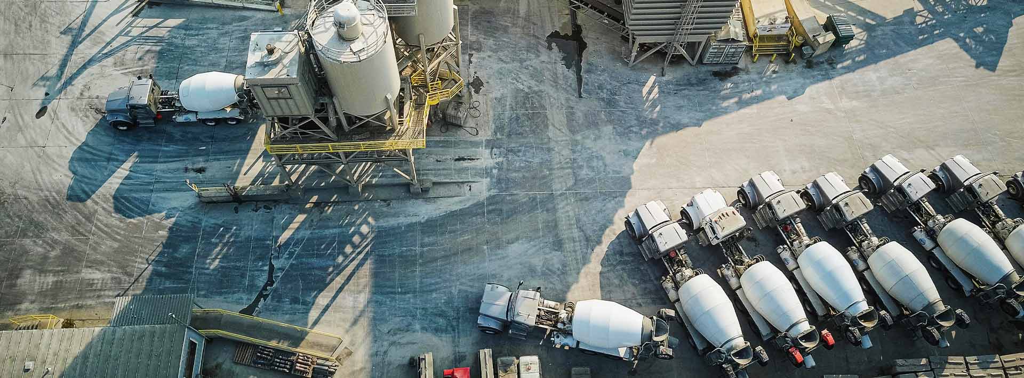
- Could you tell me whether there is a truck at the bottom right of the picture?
Yes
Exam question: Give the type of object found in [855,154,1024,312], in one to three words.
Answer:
truck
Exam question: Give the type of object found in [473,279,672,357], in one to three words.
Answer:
truck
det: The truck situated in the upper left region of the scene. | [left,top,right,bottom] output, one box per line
[103,71,261,132]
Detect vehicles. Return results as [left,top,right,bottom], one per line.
[520,356,539,378]
[735,171,890,337]
[444,368,473,378]
[103,71,261,132]
[855,154,1024,312]
[498,358,517,378]
[798,172,964,337]
[679,190,831,360]
[926,154,1024,274]
[473,279,672,357]
[623,200,765,374]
